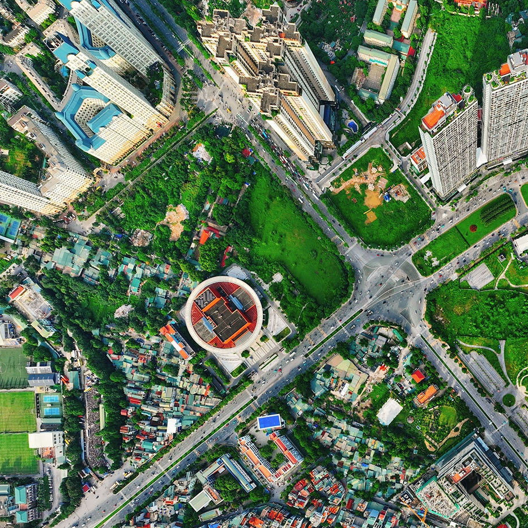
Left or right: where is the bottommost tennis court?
left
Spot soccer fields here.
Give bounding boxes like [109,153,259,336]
[0,434,38,475]
[0,391,36,432]
[0,348,30,388]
